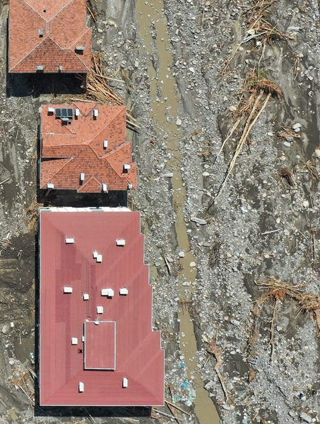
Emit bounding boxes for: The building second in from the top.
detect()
[39,103,137,192]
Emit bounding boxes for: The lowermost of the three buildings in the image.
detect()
[38,200,165,407]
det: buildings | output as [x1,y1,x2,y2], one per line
[38,200,165,407]
[39,103,137,192]
[8,0,92,73]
